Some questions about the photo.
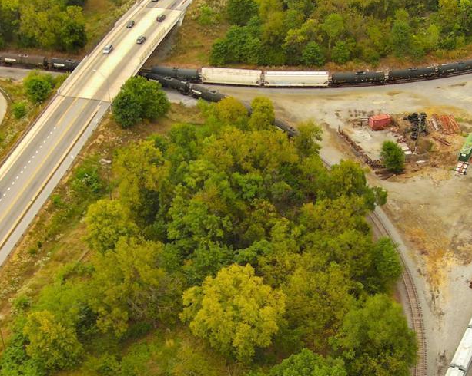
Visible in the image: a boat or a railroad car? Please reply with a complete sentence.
It is a railroad car that can be seen here.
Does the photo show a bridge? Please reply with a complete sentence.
Yes, looking at the shot, I can spot a bridge.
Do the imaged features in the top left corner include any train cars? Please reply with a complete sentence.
Yes, the scene does show a train car in the top left corner.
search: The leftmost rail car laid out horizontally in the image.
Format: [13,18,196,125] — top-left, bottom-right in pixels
[5,48,53,67]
